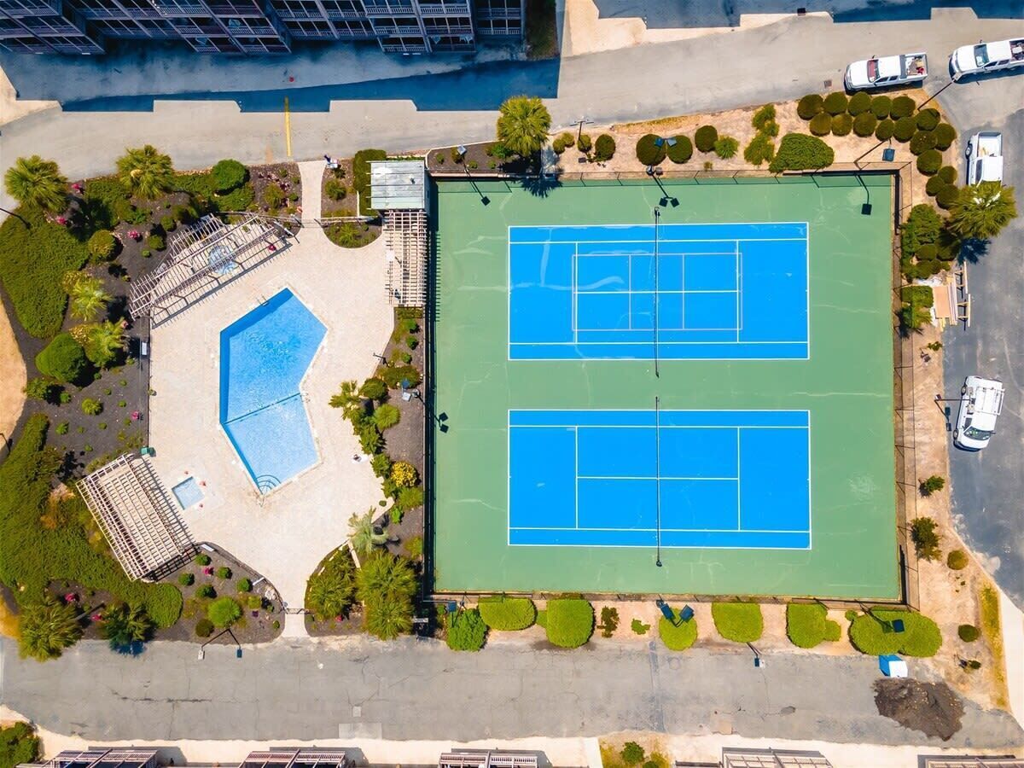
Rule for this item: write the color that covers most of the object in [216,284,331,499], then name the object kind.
blue swimming pool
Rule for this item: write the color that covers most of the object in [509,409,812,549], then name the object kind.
blue tennis court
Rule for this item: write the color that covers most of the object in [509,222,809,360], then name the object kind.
blue tennis court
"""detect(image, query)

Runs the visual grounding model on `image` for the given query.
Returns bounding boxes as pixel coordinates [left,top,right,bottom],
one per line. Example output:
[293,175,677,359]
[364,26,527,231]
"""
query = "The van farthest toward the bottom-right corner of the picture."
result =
[955,376,1006,449]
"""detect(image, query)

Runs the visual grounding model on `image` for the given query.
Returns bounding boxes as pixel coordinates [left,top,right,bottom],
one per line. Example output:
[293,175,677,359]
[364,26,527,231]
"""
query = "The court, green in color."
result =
[433,174,901,600]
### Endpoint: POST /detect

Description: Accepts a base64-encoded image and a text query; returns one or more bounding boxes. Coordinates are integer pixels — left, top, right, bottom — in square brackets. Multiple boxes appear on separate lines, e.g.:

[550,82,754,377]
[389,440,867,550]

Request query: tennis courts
[509,409,812,549]
[433,174,901,600]
[509,222,809,360]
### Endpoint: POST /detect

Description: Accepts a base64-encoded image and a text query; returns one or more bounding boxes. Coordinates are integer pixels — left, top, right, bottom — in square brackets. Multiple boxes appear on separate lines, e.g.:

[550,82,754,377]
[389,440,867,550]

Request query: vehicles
[947,40,1024,80]
[955,376,1006,449]
[966,133,1005,192]
[844,54,927,93]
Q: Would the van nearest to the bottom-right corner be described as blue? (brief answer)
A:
No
